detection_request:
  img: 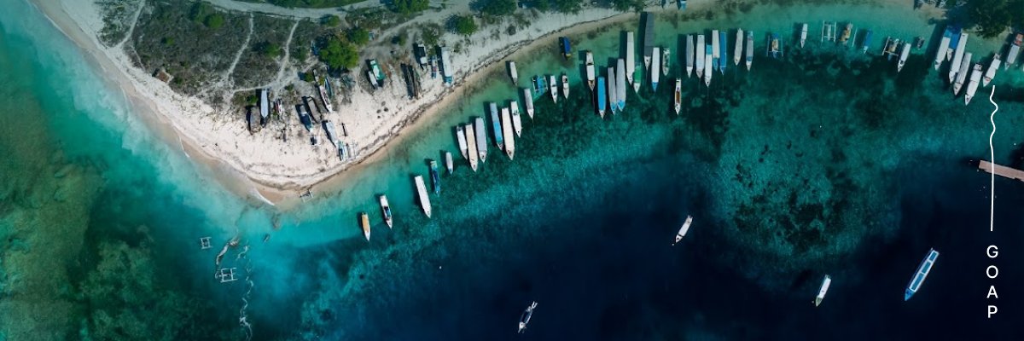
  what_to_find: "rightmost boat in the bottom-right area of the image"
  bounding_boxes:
[904,249,938,301]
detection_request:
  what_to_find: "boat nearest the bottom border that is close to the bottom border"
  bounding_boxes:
[518,301,537,335]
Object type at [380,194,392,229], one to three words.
boat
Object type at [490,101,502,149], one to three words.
boat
